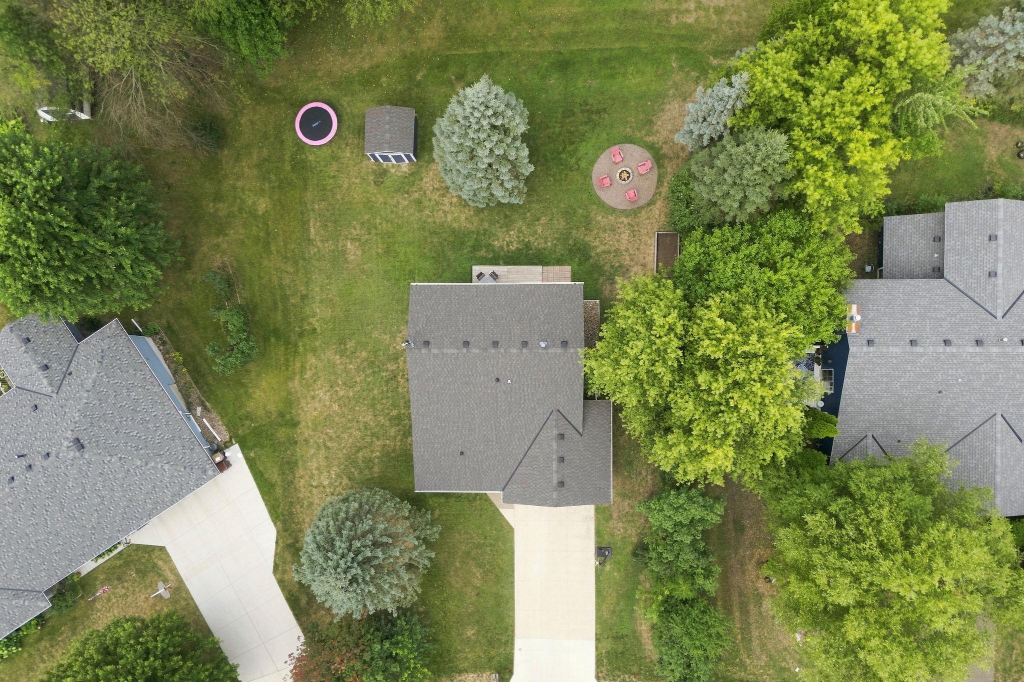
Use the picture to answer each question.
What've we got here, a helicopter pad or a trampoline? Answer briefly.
trampoline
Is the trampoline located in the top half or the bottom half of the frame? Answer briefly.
top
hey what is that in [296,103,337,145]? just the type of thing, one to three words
trampoline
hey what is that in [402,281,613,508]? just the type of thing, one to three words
house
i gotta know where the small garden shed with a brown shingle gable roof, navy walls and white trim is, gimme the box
[365,105,416,162]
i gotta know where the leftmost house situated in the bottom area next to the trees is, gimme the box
[0,303,226,640]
